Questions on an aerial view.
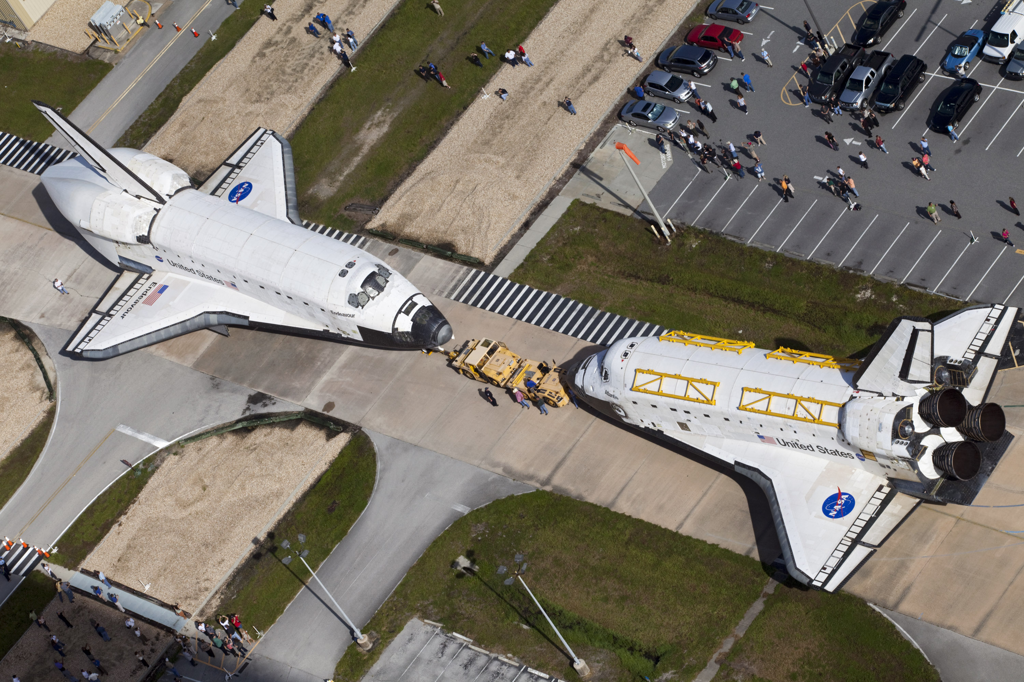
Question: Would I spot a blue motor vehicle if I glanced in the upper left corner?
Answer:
No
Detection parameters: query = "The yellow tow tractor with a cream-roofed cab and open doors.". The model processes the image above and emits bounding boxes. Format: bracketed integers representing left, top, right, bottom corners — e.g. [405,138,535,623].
[449,337,522,389]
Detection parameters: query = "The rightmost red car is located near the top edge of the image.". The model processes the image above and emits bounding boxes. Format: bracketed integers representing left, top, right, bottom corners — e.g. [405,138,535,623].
[682,18,743,52]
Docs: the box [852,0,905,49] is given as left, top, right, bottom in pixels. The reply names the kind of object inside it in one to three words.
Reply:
car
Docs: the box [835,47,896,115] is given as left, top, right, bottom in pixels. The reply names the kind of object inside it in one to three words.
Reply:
vehicle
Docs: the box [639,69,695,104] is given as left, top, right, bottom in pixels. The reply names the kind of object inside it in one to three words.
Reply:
car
